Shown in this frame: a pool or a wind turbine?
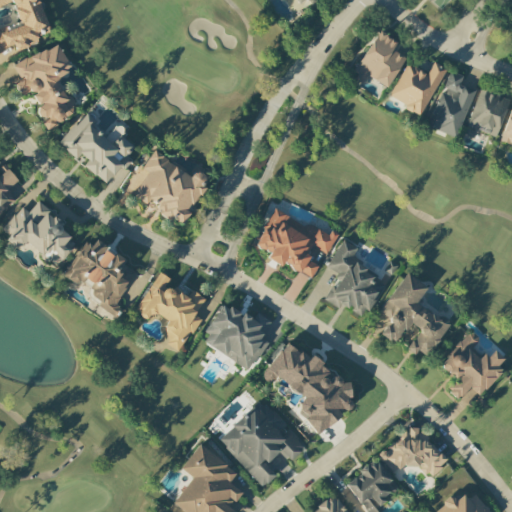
pool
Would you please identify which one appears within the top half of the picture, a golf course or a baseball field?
golf course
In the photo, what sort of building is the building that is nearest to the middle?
residential house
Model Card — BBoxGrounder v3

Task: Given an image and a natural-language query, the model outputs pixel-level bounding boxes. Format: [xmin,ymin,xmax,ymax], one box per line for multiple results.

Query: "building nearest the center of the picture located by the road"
[258,211,339,277]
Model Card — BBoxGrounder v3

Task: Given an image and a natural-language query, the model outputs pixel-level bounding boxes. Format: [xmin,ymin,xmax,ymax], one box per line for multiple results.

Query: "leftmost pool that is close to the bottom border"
[161,470,188,493]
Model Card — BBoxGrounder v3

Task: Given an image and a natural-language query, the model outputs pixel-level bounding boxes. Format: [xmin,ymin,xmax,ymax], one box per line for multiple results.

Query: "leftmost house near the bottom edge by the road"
[175,445,244,512]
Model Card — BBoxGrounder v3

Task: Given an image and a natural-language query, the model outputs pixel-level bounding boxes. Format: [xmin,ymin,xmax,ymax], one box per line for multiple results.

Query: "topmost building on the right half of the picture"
[362,32,407,86]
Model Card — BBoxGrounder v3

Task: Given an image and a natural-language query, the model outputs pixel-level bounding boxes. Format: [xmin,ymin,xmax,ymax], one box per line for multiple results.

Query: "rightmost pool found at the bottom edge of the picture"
[406,474,426,490]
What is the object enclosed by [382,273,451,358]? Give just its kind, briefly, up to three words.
house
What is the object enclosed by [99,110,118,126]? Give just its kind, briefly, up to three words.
swimming pool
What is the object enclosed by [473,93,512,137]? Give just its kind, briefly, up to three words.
house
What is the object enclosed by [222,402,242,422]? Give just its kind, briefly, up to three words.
swimming pool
